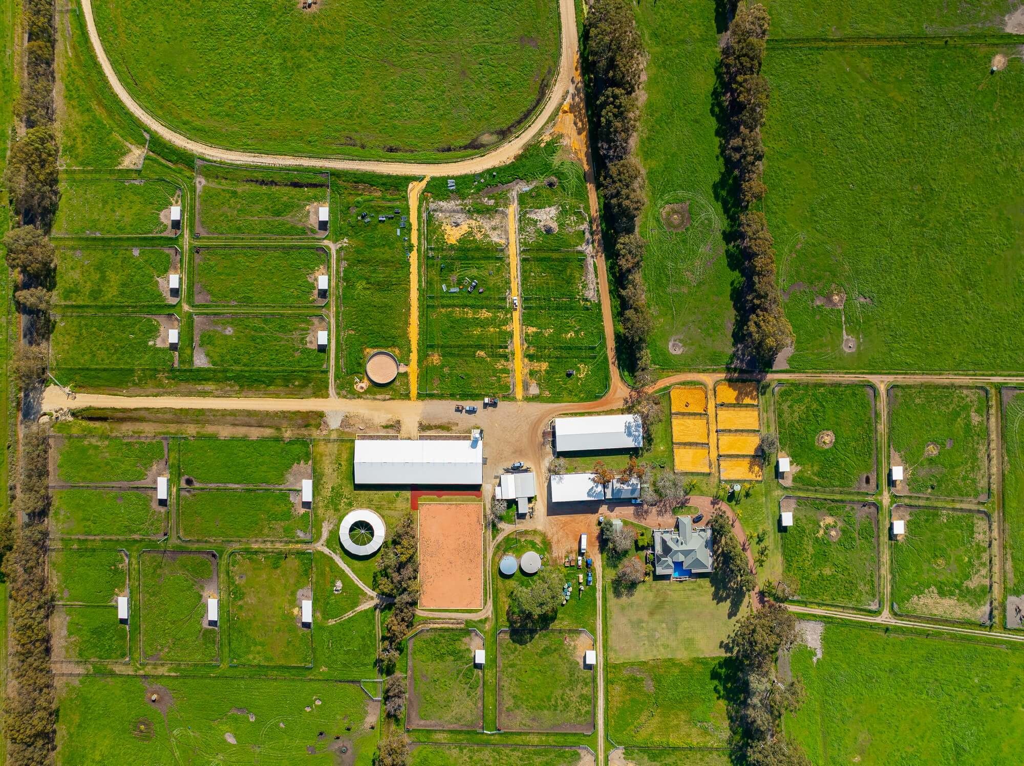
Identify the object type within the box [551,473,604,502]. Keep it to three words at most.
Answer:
barn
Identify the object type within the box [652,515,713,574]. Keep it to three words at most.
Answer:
house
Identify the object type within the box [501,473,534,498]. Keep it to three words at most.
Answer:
shed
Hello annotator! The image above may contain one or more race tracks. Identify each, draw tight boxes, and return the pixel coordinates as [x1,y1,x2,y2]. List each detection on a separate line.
[81,0,577,177]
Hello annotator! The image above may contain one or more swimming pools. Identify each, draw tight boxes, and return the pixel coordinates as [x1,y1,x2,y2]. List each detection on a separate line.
[673,562,691,577]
